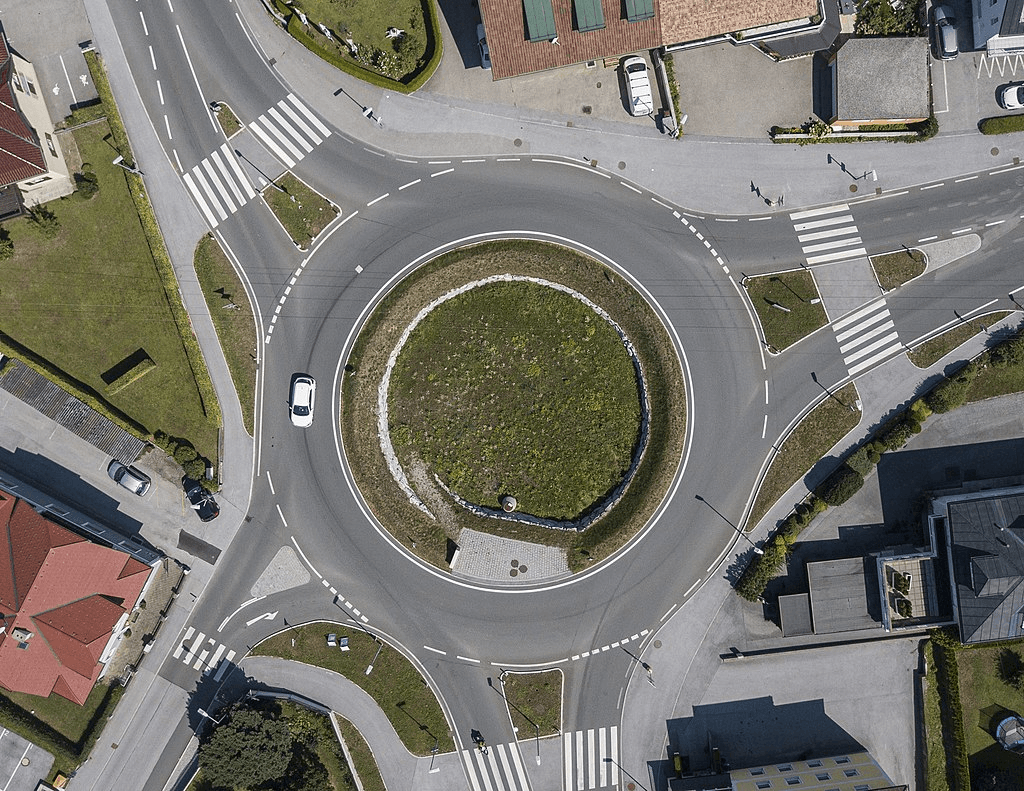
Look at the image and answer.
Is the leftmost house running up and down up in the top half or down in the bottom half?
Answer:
top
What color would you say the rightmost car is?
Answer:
white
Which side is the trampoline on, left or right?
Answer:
right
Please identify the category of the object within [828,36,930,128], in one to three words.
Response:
building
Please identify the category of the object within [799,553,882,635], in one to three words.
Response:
building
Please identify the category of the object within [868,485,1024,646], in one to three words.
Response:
house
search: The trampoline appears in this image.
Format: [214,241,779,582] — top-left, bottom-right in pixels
[993,714,1024,762]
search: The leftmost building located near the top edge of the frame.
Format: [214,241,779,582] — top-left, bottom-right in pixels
[0,29,74,206]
